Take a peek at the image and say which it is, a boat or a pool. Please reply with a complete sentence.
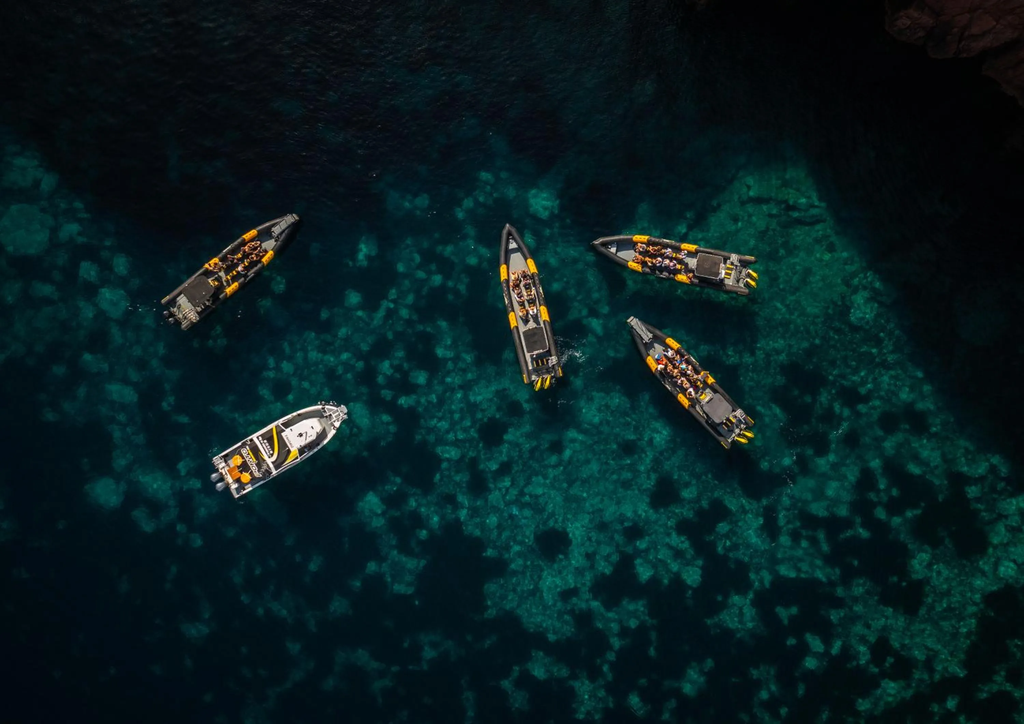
I can see a boat in this picture.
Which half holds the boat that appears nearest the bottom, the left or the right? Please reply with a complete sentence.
It is on the left.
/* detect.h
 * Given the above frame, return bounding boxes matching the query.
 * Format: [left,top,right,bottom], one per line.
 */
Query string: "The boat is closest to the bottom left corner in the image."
[212,401,350,497]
